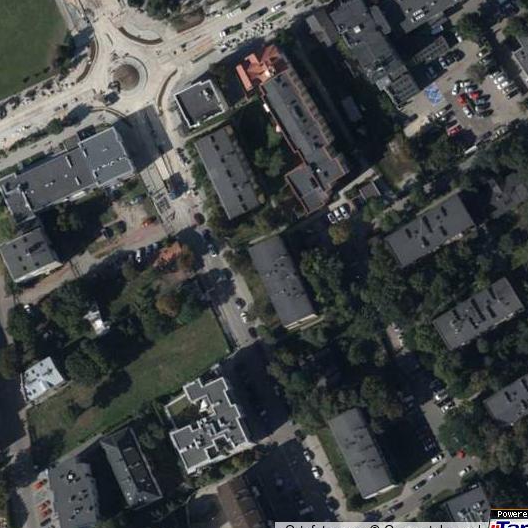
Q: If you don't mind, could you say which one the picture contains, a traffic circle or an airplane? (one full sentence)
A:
The one in the frame is a traffic circle.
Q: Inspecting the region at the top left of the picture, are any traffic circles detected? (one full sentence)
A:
Yes, looking at the top left of the picture, one can make out a traffic circle.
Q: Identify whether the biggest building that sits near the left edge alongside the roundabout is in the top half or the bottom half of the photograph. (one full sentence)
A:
The biggest building that sits near the left edge alongside the roundabout sits in the top half of the picture.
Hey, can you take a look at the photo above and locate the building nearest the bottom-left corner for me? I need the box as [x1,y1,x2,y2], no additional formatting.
[48,457,100,528]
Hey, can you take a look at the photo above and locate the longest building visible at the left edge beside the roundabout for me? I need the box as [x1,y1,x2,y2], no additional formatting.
[15,127,135,220]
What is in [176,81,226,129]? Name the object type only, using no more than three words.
building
